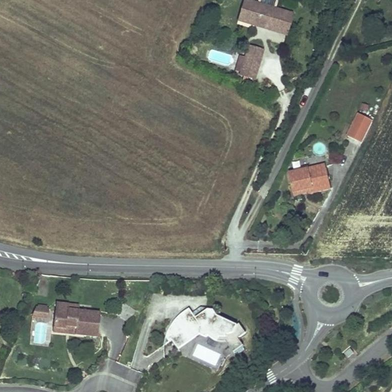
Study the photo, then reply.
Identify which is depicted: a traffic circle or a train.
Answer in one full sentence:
I can see a traffic circle in this picture.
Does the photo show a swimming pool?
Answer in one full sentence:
Yes, a swimming pool appears in the view.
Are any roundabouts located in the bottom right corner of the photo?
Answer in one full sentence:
Yes, in the bottom right corner of the photo there is a roundabout.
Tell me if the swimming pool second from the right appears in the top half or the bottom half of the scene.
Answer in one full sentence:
The swimming pool second from the right is in the top half of the image.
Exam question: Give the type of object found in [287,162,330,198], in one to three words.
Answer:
house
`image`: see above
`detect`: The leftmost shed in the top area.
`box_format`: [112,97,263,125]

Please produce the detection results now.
[235,44,264,80]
